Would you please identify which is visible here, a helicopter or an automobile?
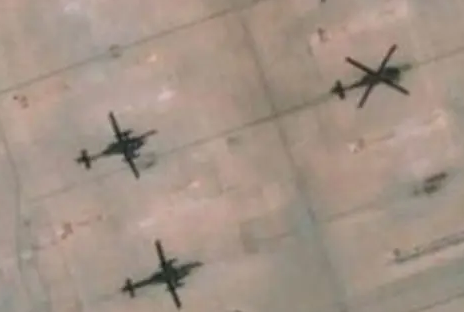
helicopter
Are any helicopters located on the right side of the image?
Yes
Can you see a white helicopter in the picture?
No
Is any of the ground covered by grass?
No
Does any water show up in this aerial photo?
No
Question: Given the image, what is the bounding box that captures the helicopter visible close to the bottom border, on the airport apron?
[125,242,202,310]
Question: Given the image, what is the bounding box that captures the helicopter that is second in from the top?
[80,111,157,177]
